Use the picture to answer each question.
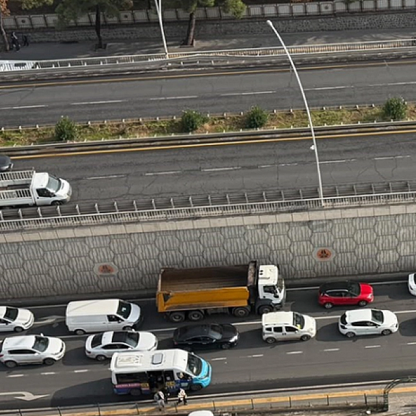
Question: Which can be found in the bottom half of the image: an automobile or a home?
automobile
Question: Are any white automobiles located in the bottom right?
Yes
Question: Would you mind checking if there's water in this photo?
No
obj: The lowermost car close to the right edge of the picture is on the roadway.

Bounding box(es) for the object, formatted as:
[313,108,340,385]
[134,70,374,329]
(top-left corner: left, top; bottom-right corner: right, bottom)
[339,308,399,339]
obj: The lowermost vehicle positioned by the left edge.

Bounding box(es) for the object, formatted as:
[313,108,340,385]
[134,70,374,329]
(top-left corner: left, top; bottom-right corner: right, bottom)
[0,336,64,369]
